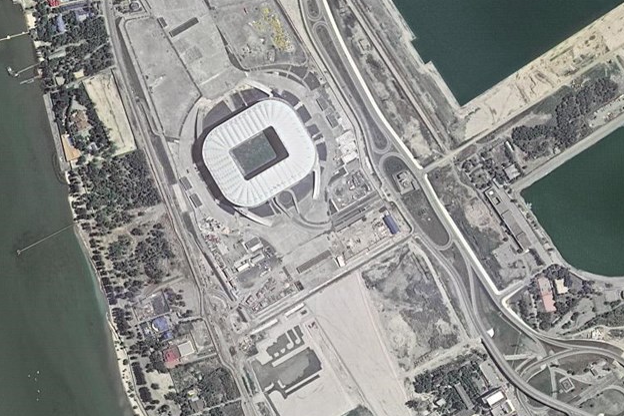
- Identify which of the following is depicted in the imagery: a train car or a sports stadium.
sports stadium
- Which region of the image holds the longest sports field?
top left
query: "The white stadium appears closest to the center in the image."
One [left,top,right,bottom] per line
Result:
[203,80,324,227]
